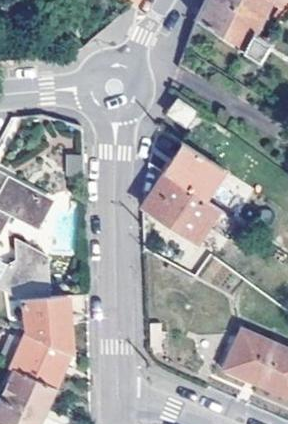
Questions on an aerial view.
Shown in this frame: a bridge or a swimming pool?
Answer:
swimming pool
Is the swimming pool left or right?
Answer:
left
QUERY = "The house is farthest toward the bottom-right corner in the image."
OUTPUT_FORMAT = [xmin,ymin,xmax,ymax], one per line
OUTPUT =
[222,326,288,401]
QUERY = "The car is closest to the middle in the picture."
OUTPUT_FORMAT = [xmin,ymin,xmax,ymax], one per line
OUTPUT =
[143,170,155,192]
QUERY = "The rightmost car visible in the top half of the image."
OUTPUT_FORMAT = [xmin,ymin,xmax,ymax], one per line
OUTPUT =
[164,8,179,30]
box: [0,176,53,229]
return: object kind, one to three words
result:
house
